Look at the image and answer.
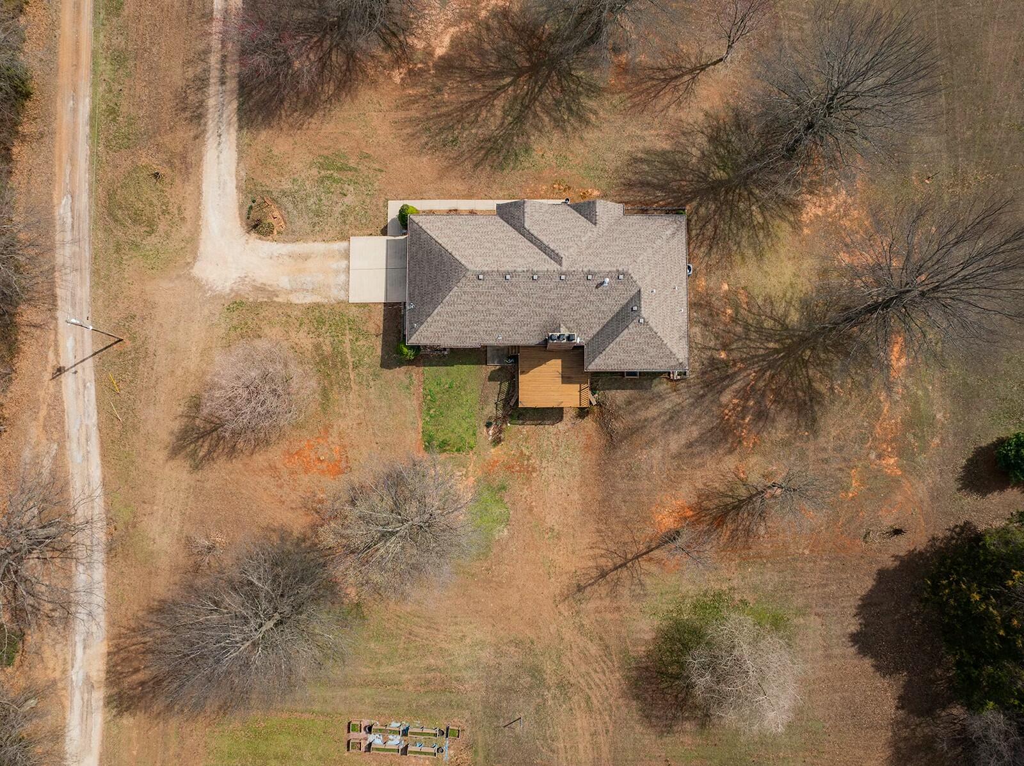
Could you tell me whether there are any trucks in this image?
No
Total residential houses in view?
one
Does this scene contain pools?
No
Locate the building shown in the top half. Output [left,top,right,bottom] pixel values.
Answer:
[406,198,690,373]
